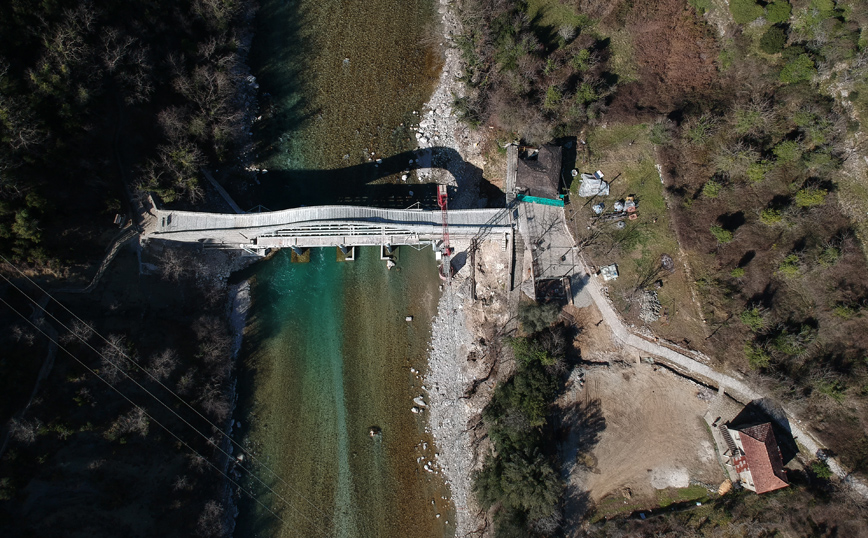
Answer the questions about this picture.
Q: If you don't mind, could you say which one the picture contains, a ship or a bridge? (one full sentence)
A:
The image shows a bridge.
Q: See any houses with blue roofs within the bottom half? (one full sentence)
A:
No, no house with a blue roof appears within the bottom half.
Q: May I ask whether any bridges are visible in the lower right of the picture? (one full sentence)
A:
No, there's no bridge to be seen in the lower right of the picture.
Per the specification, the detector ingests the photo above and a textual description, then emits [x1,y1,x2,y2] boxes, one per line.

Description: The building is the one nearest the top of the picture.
[516,146,561,202]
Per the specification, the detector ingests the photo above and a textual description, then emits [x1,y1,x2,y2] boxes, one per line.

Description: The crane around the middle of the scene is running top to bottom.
[437,186,459,391]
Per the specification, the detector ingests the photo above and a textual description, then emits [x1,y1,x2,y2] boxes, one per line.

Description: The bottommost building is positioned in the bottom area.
[717,421,790,494]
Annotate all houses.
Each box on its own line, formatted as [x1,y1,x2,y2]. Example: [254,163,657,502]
[516,146,561,202]
[717,421,790,494]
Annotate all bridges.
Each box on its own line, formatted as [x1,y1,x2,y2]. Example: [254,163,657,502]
[142,205,514,244]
